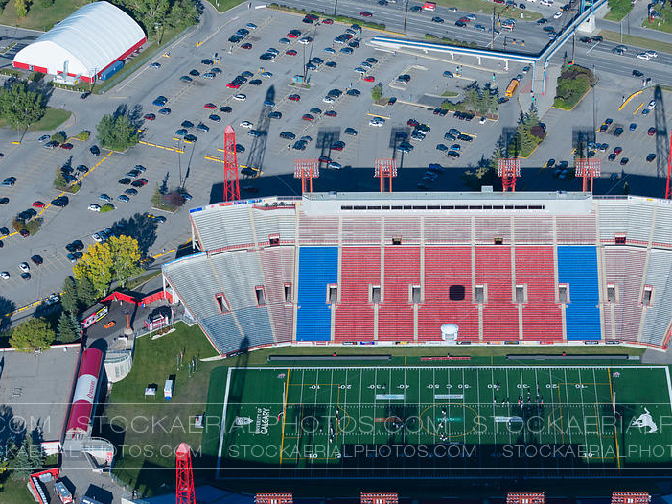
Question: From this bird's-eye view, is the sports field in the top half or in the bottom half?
bottom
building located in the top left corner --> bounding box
[13,0,146,82]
